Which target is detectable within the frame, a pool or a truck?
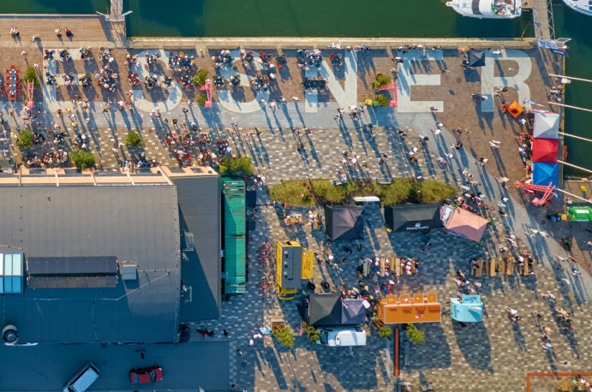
truck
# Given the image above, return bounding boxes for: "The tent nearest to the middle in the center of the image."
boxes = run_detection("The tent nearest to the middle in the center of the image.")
[325,202,363,240]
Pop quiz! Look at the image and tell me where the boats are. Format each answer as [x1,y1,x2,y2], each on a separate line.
[563,0,592,18]
[447,0,520,18]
